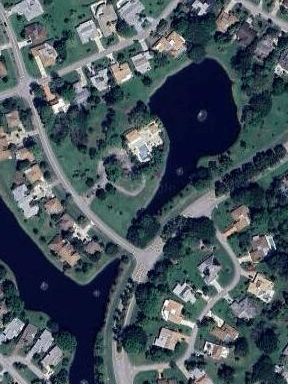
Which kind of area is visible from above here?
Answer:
residential area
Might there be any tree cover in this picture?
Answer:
Yes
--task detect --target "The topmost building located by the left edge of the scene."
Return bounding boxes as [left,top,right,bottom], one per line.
[11,0,47,20]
